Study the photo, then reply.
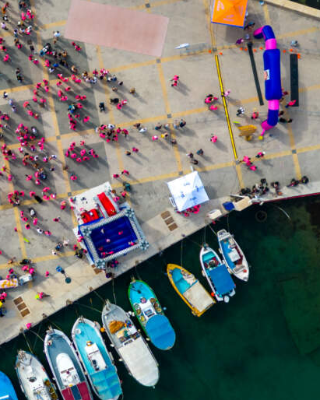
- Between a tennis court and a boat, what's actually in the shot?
boat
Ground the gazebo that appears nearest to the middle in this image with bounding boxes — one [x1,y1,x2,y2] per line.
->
[163,171,209,212]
